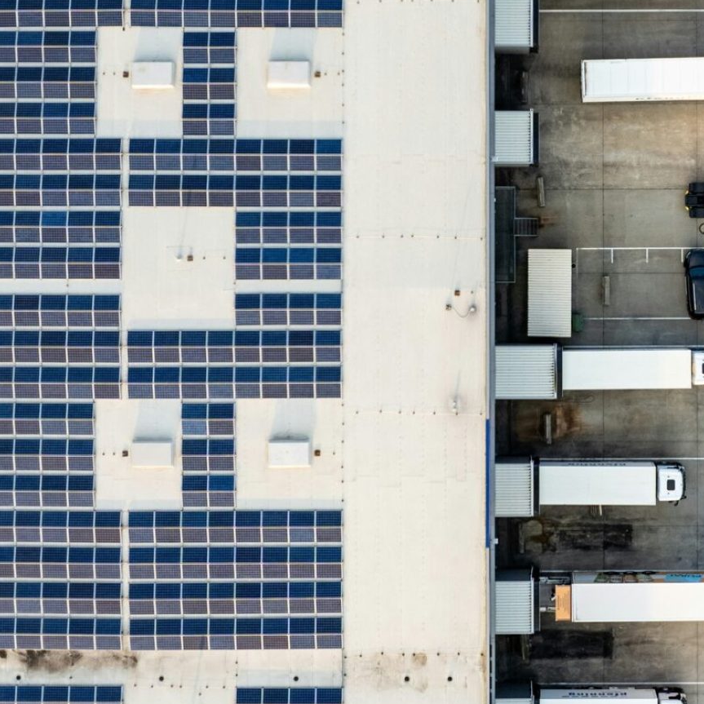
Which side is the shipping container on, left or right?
right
